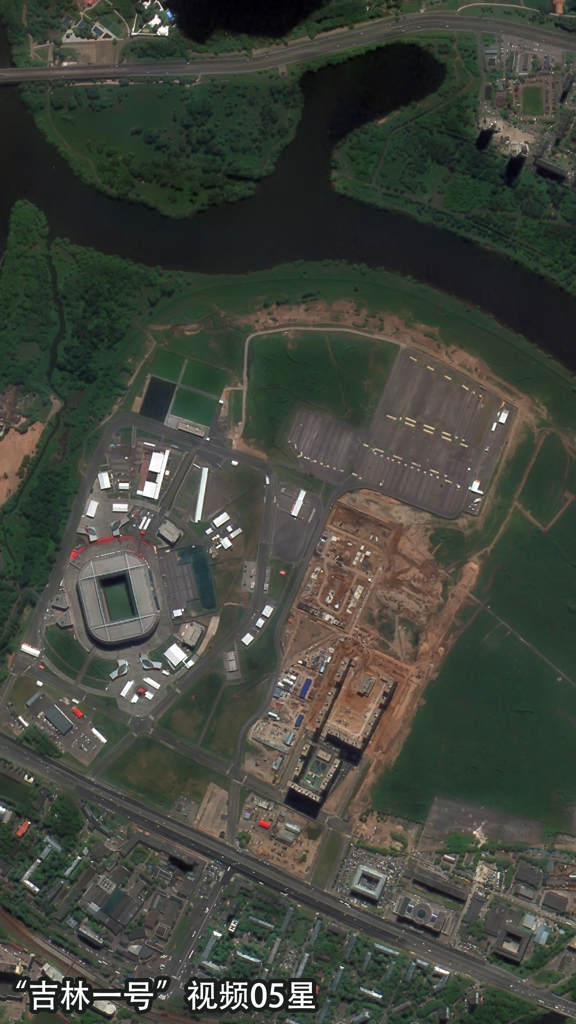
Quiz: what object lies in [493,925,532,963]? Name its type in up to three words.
building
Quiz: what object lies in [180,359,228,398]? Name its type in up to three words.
sports field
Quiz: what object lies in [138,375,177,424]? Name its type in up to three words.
sports field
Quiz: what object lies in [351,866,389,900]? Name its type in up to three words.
building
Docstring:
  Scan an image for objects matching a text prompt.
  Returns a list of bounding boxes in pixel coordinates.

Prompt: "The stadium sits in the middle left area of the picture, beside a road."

[64,535,172,659]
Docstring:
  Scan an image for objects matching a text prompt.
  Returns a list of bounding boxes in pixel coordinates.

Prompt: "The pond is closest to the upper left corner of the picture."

[164,0,333,44]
